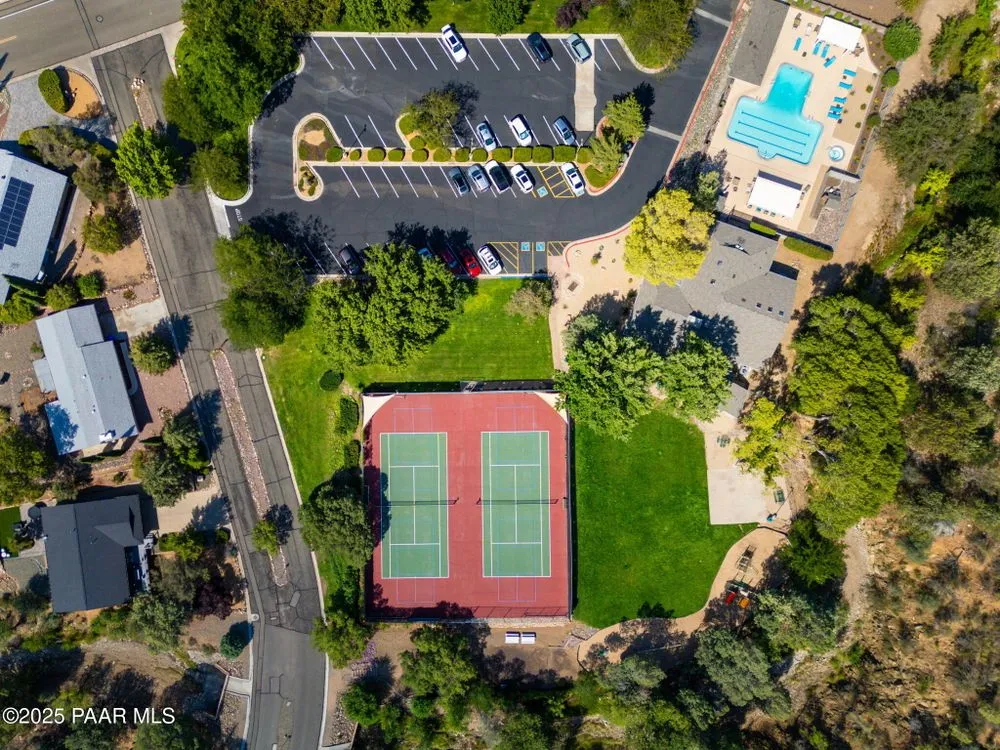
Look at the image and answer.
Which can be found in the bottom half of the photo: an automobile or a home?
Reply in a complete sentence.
The one visible in the bottom half of the photo is a home.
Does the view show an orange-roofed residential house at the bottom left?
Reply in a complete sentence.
No, no orange-roofed residential house appears at the bottom left.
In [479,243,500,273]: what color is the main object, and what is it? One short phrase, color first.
white car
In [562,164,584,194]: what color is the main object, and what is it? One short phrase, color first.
white car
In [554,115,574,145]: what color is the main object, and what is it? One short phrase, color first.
blue car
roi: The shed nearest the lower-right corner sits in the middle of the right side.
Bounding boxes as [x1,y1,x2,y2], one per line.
[717,385,748,417]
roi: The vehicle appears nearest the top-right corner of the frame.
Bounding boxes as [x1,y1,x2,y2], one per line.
[569,33,590,63]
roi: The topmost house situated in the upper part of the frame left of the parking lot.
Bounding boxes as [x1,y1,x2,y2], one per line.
[0,150,74,296]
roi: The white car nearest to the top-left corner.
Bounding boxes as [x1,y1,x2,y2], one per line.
[441,23,465,59]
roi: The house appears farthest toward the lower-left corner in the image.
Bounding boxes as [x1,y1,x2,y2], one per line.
[41,495,150,613]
